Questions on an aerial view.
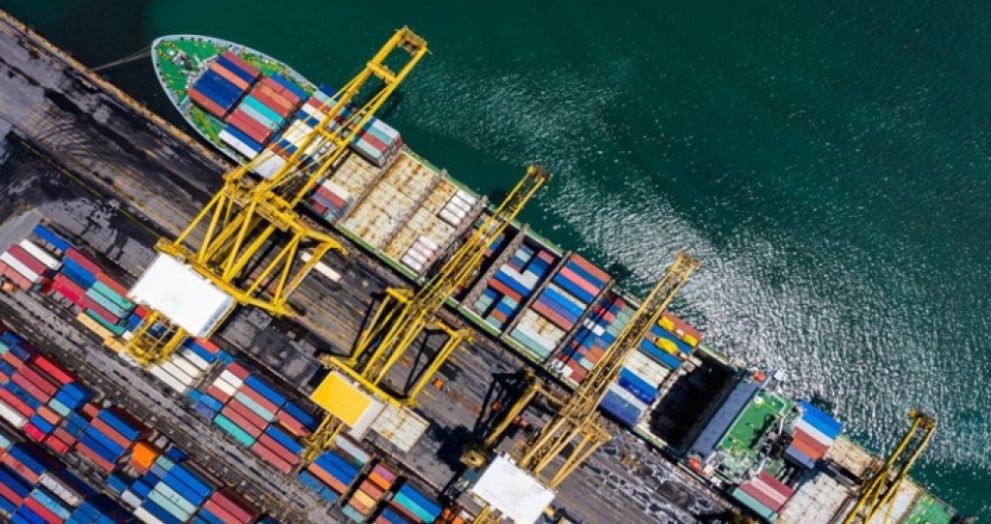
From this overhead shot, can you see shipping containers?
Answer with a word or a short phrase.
Yes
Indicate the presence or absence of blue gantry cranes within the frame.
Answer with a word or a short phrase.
No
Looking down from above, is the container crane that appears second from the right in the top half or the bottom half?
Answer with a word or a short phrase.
bottom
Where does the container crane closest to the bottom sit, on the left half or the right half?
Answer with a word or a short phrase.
right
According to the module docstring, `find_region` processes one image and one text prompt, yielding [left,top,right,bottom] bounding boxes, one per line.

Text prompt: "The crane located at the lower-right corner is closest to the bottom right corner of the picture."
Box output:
[842,411,947,524]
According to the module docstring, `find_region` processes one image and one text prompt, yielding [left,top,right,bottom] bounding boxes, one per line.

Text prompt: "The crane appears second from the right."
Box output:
[465,252,702,524]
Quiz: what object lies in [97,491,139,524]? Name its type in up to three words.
shipping container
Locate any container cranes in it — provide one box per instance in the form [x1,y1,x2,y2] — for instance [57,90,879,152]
[123,27,433,380]
[281,159,546,477]
[465,252,702,524]
[842,411,947,524]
